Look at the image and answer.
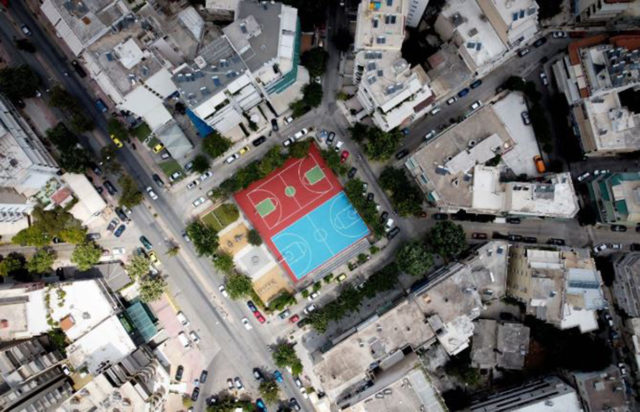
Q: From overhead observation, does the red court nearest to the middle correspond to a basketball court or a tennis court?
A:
basketball court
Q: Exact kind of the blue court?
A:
basketball court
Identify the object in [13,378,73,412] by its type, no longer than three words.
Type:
building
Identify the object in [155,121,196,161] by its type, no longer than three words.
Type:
shed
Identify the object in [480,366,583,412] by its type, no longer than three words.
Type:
building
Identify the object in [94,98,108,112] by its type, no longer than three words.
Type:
vehicle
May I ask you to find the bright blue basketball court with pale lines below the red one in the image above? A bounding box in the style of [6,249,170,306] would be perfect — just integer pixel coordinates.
[272,189,371,279]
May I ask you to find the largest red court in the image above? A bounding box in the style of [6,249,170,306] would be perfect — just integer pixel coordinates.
[234,144,375,286]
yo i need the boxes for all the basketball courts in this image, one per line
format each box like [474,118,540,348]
[272,189,371,279]
[234,144,375,286]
